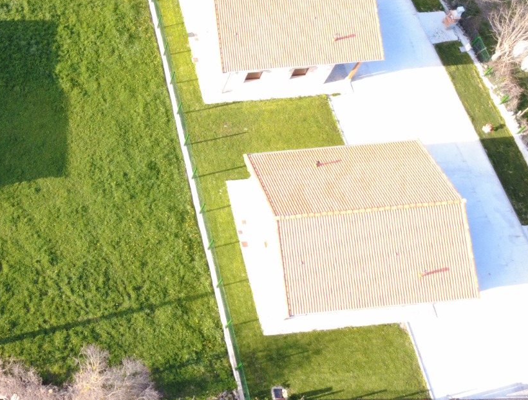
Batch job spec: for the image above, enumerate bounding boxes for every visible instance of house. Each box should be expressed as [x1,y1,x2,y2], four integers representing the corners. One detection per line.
[244,146,486,324]
[201,0,388,91]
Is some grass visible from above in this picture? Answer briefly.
Yes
